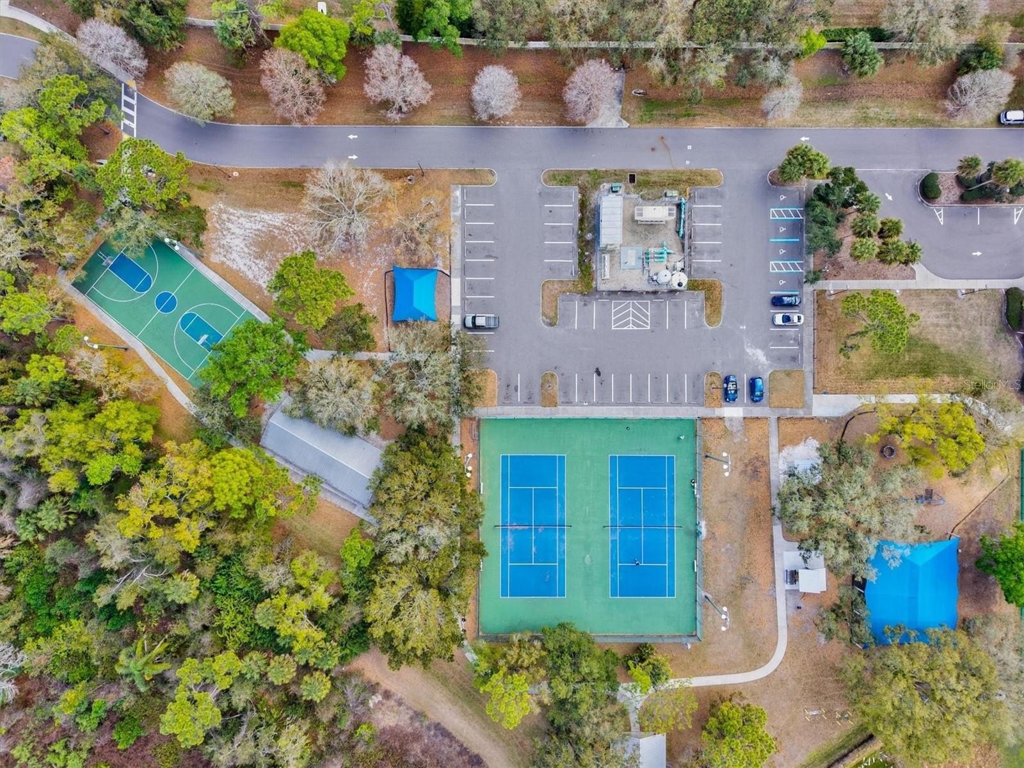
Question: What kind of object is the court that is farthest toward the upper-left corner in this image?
basketball court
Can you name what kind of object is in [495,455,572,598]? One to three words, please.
tennis court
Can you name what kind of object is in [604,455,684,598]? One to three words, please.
tennis court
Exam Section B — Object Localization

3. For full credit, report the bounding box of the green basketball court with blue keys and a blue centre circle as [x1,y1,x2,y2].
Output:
[71,213,261,392]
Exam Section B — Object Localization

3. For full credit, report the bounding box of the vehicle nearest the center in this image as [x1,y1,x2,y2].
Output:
[464,315,499,330]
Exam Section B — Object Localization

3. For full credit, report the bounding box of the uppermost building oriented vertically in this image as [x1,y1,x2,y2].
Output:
[599,195,622,254]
